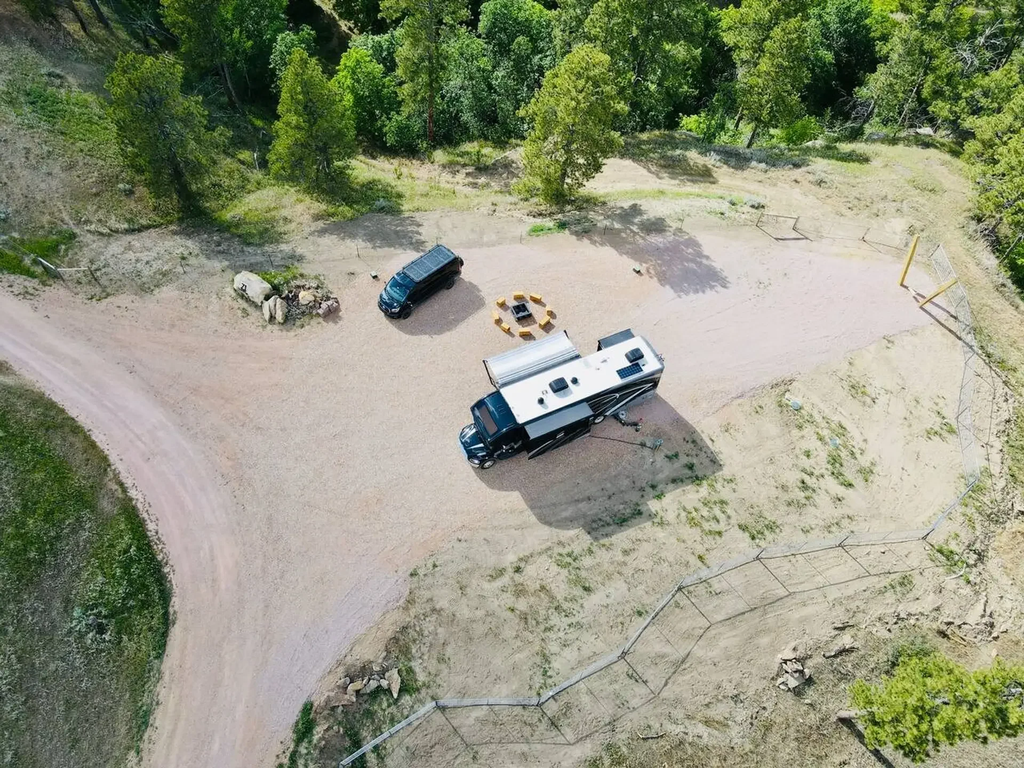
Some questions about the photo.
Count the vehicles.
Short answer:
2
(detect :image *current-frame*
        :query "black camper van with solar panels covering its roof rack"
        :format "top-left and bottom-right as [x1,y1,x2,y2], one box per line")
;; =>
[372,236,465,318]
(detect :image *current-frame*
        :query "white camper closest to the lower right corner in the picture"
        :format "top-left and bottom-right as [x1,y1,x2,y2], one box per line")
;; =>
[451,327,663,470]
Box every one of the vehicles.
[372,236,465,318]
[451,327,663,470]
